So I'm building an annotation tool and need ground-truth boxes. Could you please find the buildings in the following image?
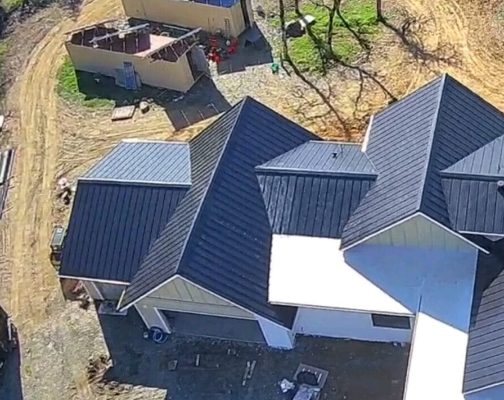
[122,0,255,36]
[64,15,215,91]
[57,73,504,400]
